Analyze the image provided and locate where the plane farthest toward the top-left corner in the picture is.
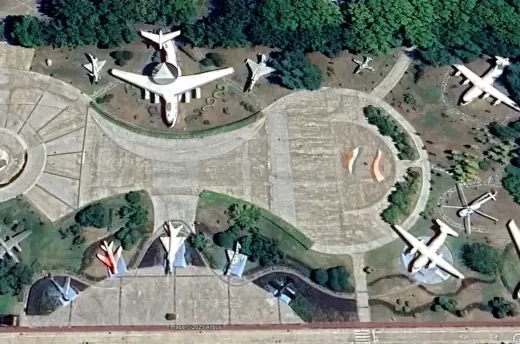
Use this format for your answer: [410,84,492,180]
[81,53,105,84]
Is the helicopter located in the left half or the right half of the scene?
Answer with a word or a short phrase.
right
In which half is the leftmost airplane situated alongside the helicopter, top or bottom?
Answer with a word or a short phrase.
bottom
